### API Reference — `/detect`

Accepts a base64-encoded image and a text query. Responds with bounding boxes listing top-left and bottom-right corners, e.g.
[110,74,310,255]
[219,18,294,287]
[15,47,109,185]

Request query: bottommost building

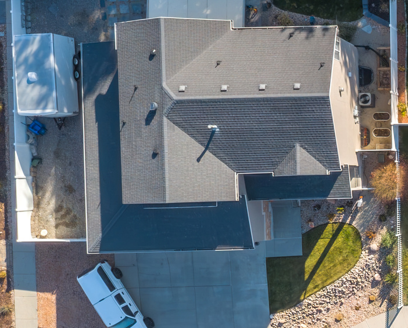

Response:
[83,17,359,252]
